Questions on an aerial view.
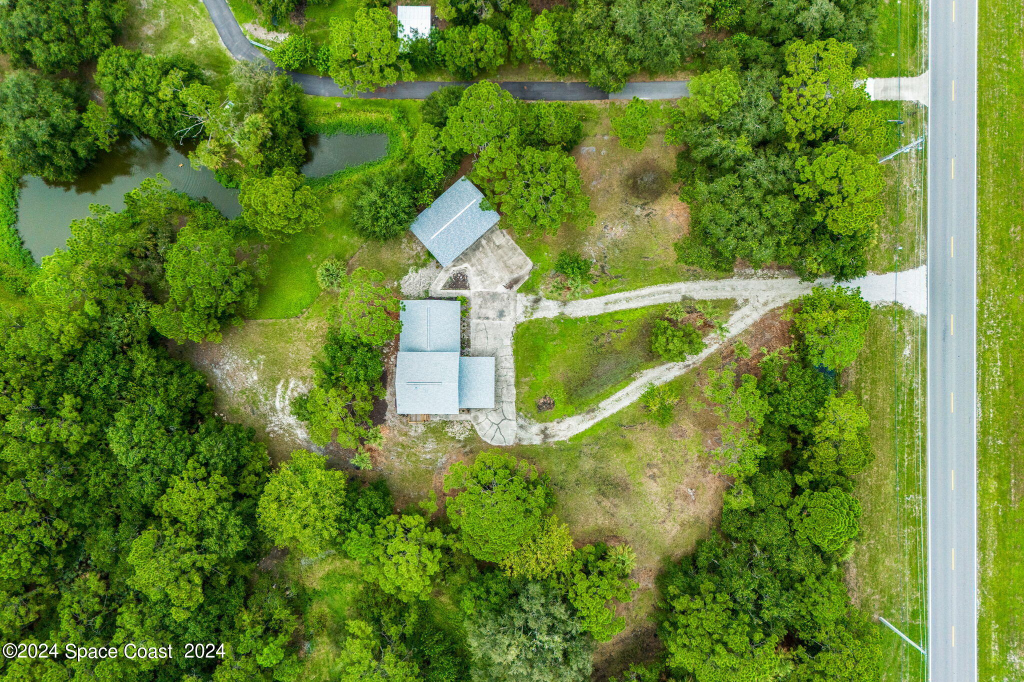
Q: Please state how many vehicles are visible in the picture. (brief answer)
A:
0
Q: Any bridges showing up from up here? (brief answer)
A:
No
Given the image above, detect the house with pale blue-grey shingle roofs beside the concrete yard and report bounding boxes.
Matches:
[395,299,495,414]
